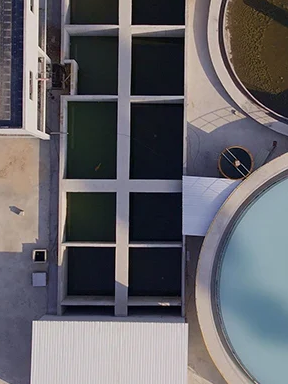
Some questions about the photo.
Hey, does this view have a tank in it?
Yes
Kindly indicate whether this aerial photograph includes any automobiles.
No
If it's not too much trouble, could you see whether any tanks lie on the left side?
No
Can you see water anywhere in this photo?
Yes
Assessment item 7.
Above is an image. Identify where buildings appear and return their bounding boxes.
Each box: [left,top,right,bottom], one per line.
[0,0,51,139]
[32,311,187,384]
